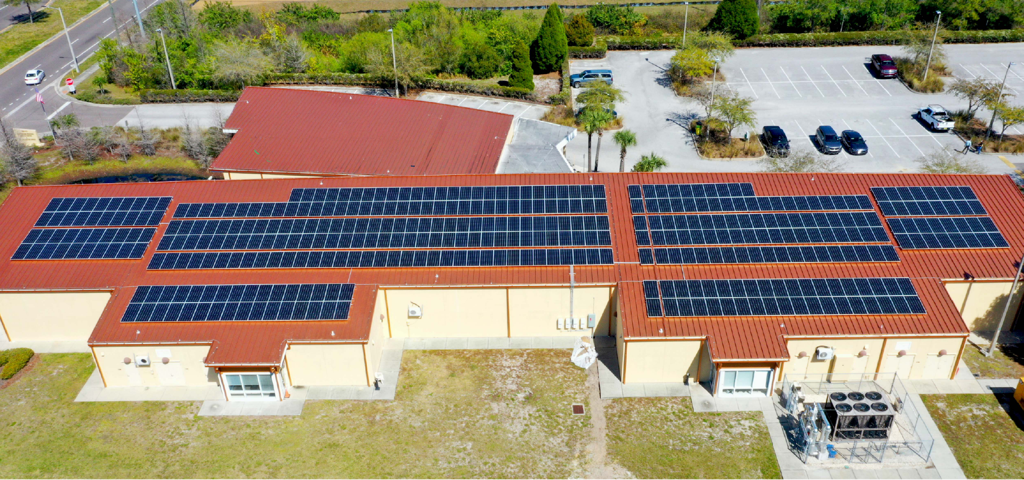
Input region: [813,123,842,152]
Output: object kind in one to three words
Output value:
car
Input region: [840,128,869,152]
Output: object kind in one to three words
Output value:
car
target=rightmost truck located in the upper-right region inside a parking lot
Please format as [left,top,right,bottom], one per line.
[915,98,953,128]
